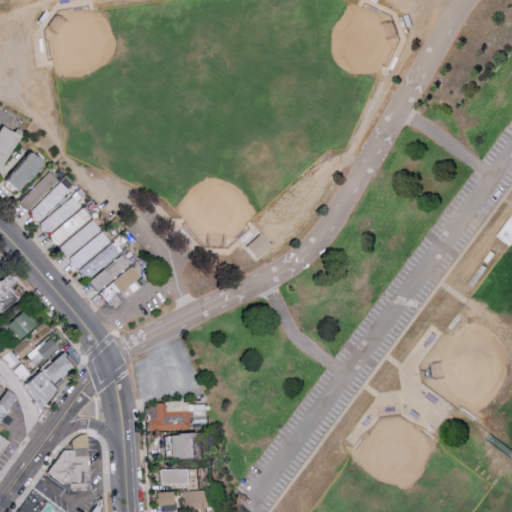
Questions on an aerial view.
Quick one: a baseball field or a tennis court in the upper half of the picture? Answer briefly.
baseball field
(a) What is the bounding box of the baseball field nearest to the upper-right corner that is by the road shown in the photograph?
[222,0,399,136]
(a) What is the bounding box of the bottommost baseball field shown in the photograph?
[312,416,492,512]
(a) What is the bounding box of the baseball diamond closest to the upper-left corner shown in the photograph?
[46,0,222,156]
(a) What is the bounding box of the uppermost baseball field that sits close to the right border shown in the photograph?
[421,244,512,412]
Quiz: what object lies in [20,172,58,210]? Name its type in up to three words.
house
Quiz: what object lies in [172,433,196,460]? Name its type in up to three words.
building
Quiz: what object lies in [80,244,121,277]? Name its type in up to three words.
house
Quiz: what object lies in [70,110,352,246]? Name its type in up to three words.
baseball field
